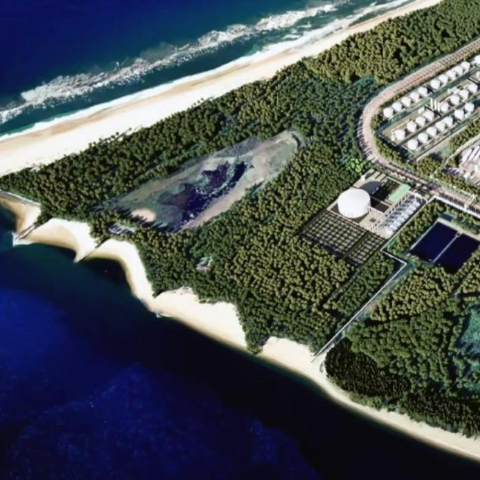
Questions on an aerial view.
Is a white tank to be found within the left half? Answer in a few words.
No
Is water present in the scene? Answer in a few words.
Yes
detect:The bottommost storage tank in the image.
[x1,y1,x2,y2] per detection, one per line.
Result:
[337,188,371,219]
